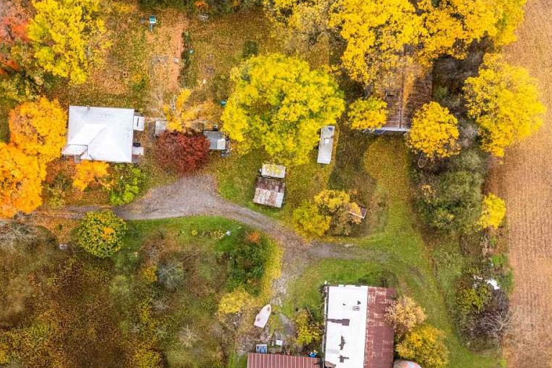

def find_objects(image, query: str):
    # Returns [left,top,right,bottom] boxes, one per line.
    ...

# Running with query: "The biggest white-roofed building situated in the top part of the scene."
[62,105,144,162]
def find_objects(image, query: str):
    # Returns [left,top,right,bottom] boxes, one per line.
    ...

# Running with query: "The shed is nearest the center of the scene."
[253,178,284,210]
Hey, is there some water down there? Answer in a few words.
No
